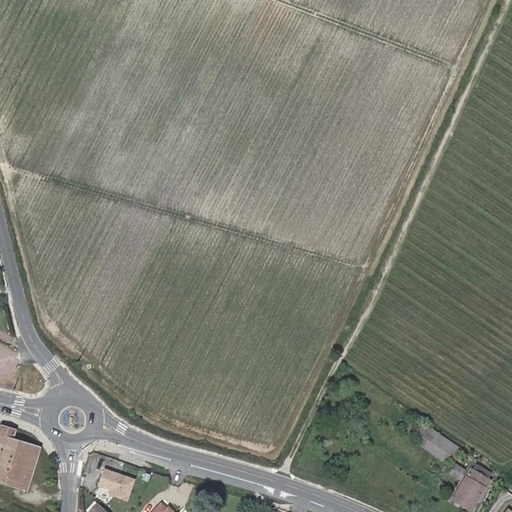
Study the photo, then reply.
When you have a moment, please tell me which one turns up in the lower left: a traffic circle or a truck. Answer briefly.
traffic circle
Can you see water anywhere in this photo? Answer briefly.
No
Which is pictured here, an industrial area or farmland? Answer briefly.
farmland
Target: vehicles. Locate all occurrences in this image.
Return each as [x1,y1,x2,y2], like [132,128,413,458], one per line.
[1,408,12,413]
[51,428,62,436]
[68,451,74,462]
[89,412,95,423]
[144,503,152,512]
[174,470,180,482]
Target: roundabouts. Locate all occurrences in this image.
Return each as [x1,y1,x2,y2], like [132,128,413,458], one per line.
[36,362,108,455]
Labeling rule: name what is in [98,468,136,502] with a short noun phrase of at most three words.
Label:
house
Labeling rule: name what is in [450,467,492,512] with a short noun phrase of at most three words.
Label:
house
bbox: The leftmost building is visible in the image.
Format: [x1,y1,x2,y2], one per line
[0,426,42,491]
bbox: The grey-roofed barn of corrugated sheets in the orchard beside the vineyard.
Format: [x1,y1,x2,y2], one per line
[419,426,460,462]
